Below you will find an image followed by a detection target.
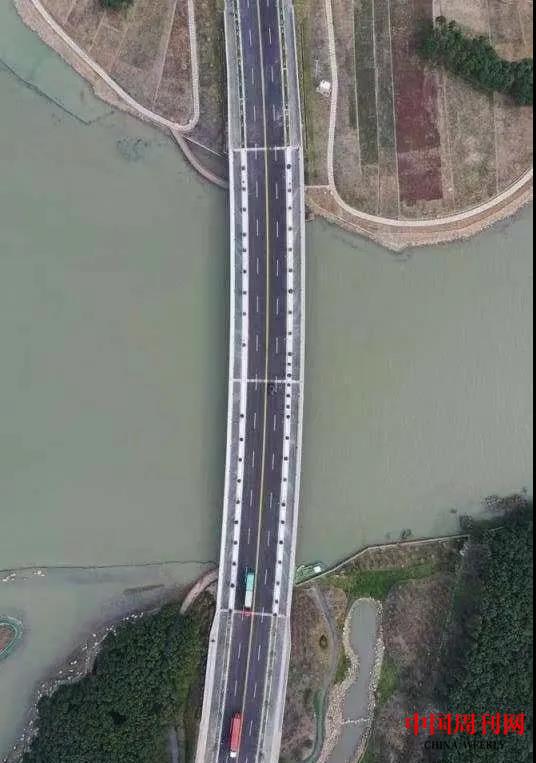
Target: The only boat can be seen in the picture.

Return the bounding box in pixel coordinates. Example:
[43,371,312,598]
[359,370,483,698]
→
[294,562,325,581]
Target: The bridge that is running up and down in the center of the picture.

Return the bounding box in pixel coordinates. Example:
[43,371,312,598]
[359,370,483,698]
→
[216,146,305,615]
